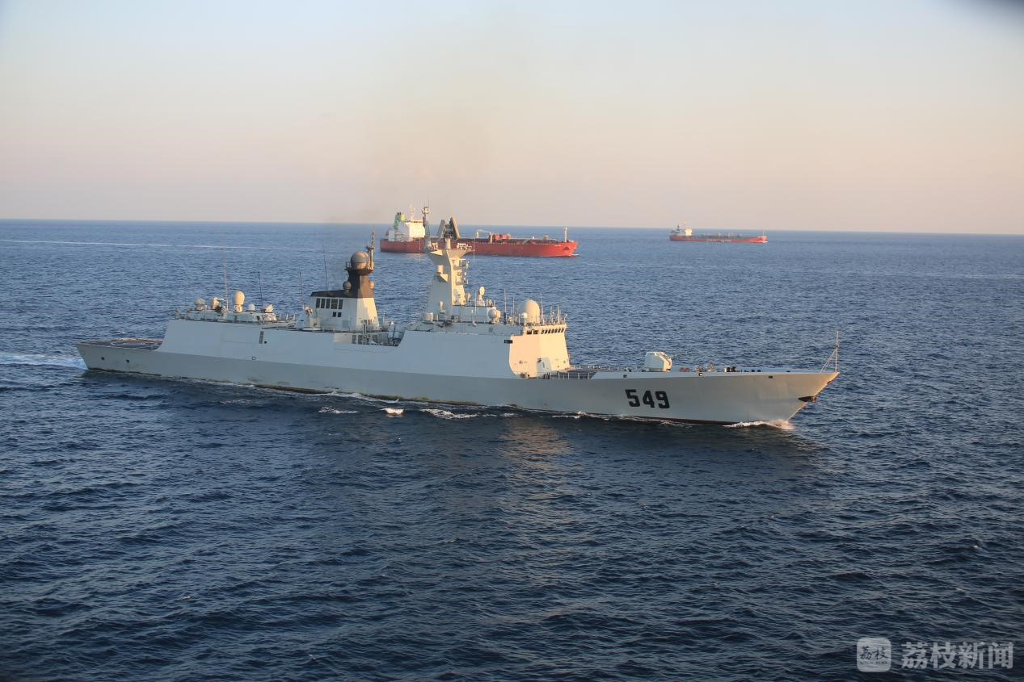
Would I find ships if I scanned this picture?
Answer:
Yes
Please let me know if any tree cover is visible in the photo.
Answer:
No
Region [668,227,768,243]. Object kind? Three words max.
ship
